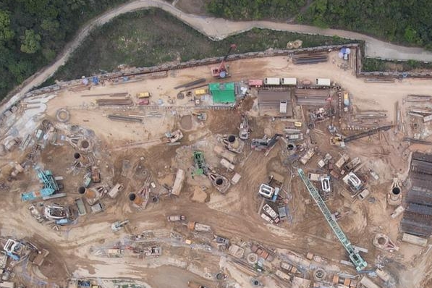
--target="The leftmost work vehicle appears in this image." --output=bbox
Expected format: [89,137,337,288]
[110,219,131,234]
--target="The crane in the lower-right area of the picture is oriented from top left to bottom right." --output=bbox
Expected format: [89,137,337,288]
[299,169,372,276]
